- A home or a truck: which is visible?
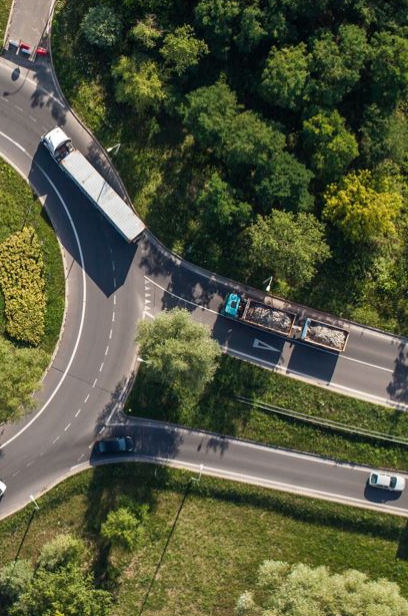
truck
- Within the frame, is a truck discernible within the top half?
Yes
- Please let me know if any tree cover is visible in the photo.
Yes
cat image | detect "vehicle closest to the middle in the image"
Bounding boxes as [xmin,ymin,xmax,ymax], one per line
[221,293,350,352]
